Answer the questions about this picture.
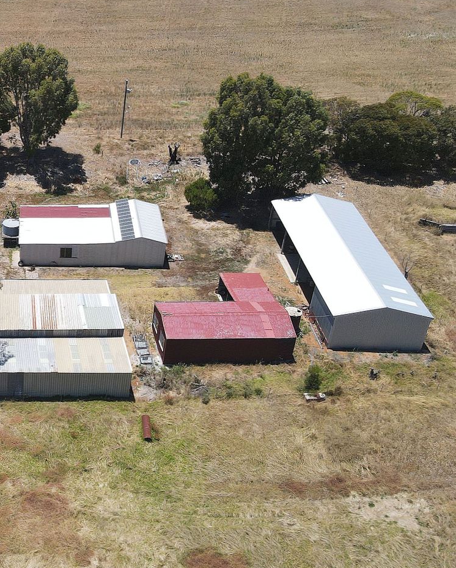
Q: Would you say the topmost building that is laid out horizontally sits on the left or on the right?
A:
left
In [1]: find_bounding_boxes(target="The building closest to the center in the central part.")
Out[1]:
[151,273,298,363]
